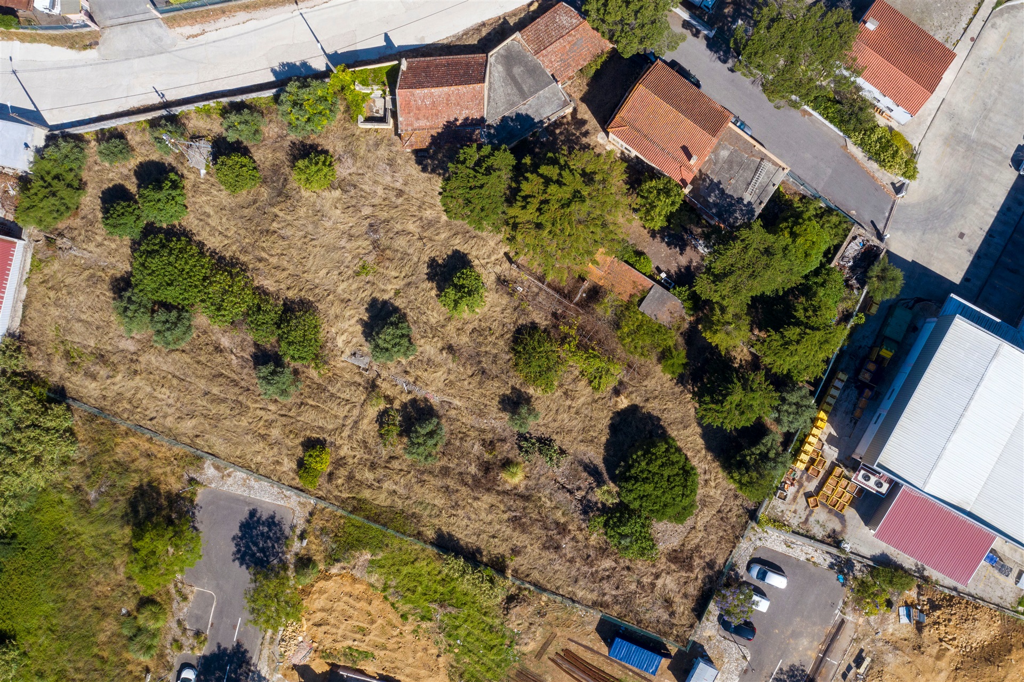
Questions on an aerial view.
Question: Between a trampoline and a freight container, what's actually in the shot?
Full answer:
Visible in the photo is a freight container.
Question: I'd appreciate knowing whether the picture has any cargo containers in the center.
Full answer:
No, looking in the center, there is no cargo container.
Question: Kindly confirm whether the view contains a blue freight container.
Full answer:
Yes, this view includes a blue freight container.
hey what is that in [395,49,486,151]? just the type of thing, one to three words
house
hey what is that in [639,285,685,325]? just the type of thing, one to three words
shed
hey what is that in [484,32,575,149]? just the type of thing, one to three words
house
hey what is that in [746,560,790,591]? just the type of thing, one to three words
car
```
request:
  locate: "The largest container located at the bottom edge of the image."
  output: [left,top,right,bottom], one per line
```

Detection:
[605,627,664,677]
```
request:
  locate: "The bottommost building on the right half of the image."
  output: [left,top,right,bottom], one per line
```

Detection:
[679,650,719,682]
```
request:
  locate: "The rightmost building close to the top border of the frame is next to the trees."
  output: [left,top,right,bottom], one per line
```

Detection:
[837,0,957,124]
